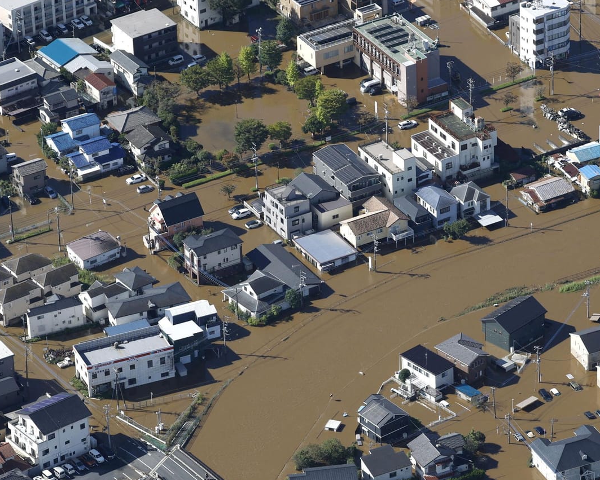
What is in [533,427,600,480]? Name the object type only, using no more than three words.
building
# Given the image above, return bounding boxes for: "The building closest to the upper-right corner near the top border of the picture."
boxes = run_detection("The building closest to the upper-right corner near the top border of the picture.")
[518,0,571,67]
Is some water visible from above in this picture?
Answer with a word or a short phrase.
Yes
